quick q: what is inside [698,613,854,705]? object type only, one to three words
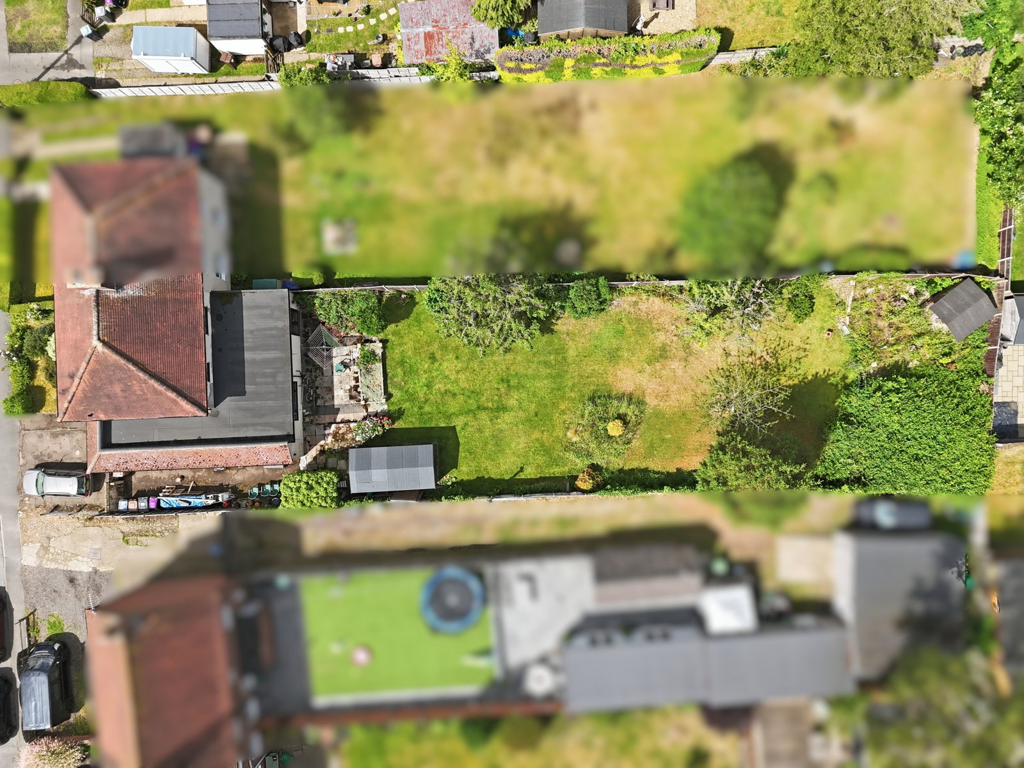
shed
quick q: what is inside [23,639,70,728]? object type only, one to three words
car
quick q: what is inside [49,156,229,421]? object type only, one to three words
house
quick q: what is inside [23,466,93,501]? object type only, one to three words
car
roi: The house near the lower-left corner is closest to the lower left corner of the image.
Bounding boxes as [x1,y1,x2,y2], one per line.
[84,558,261,768]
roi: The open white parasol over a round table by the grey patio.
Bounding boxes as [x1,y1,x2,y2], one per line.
[524,659,553,692]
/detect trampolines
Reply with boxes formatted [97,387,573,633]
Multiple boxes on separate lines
[423,569,485,630]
